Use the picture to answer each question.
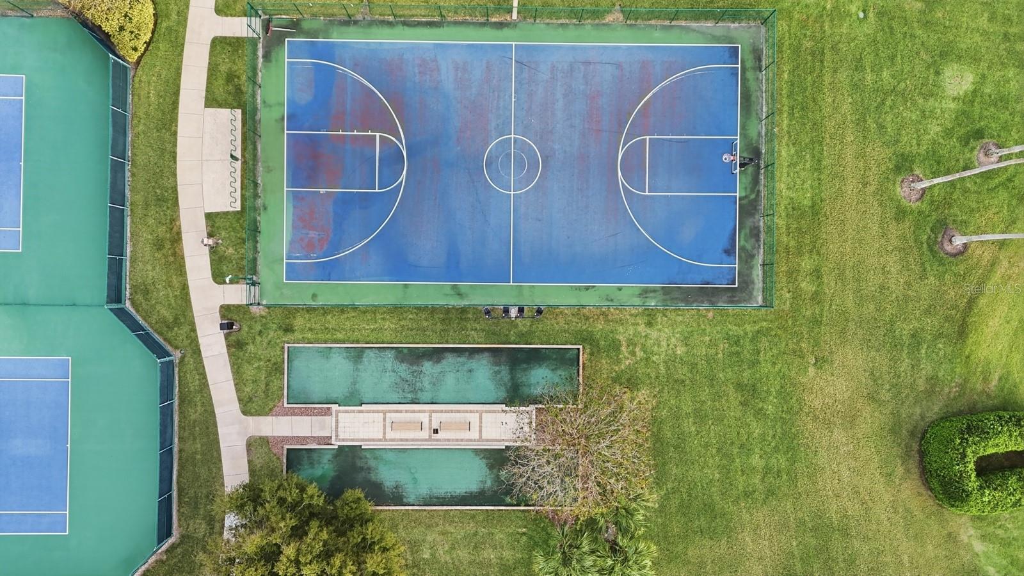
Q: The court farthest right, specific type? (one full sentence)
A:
The court farthest right can be classified as a basketball court.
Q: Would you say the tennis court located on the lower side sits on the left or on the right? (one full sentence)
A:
The tennis court located on the lower side sits on the left side.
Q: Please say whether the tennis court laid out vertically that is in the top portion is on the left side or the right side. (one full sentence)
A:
You can find the tennis court laid out vertically that is in the top portion on the left side of the picture.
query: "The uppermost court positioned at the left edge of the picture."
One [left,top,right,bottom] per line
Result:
[0,18,129,304]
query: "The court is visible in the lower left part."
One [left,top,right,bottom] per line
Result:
[0,305,173,576]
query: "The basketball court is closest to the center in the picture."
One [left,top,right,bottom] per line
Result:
[255,16,766,309]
